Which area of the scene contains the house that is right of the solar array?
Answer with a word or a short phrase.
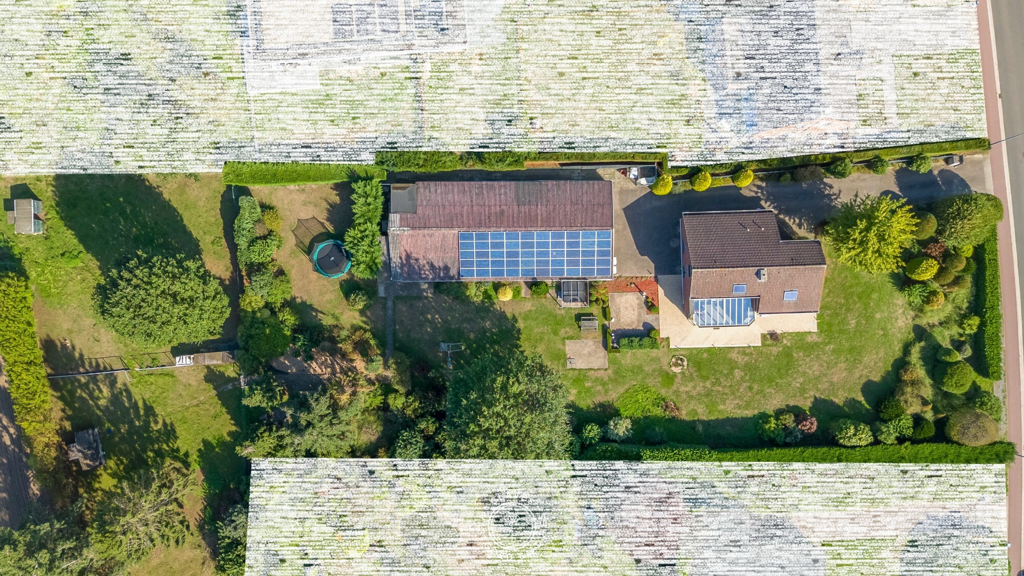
right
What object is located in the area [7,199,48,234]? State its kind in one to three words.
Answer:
shed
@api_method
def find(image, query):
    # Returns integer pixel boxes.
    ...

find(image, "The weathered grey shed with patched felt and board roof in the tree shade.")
[67,427,105,470]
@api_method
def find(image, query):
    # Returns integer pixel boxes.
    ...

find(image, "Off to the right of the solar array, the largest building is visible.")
[678,208,828,326]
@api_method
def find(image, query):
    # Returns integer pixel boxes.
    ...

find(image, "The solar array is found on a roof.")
[459,231,615,278]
